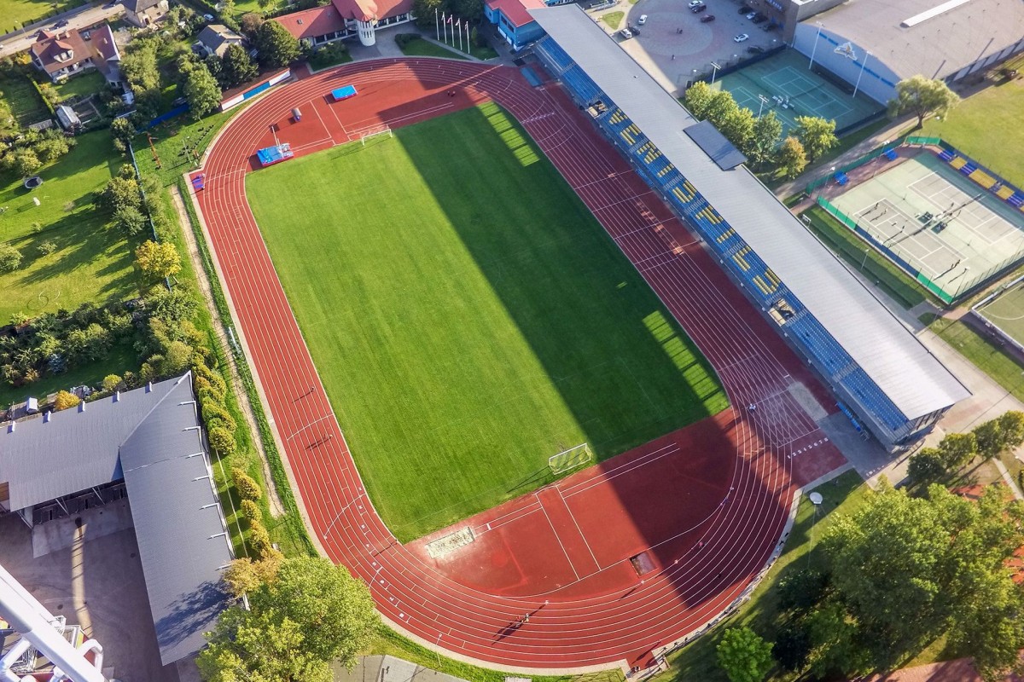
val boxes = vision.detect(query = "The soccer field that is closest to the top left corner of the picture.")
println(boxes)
[245,100,730,543]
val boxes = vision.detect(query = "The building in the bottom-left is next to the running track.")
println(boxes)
[0,369,247,663]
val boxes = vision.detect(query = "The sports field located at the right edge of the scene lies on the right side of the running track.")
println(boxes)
[973,277,1024,347]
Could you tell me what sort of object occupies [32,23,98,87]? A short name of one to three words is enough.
house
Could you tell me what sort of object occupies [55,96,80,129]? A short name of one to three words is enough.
greenhouse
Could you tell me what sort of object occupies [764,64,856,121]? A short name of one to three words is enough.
tennis court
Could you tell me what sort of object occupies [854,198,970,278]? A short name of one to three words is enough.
tennis court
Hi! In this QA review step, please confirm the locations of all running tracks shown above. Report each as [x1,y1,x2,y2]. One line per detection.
[199,57,847,670]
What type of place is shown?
sports ground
